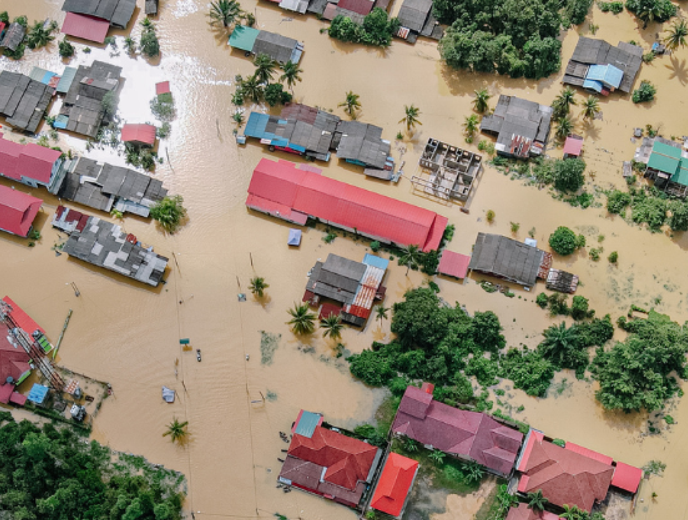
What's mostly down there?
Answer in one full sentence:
The largest share of the image is taken up by water.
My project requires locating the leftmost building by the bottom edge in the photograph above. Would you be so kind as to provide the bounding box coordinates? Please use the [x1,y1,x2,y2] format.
[279,409,374,508]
